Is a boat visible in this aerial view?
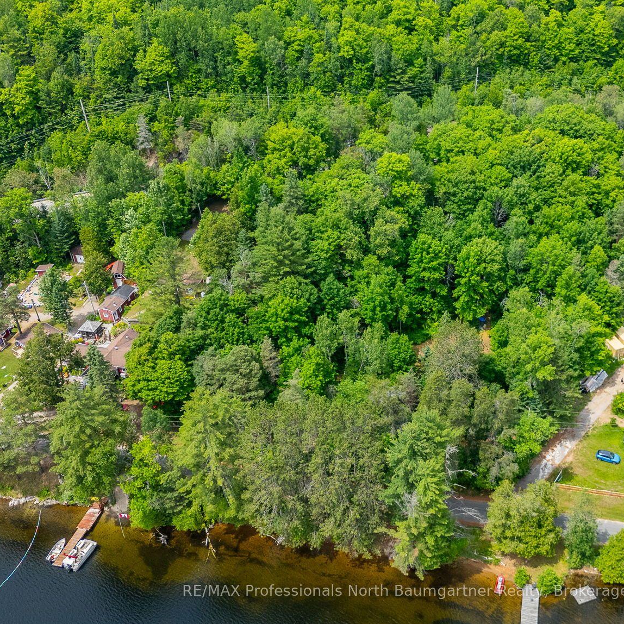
Yes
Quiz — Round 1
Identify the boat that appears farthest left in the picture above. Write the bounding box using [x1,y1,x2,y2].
[48,538,65,565]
